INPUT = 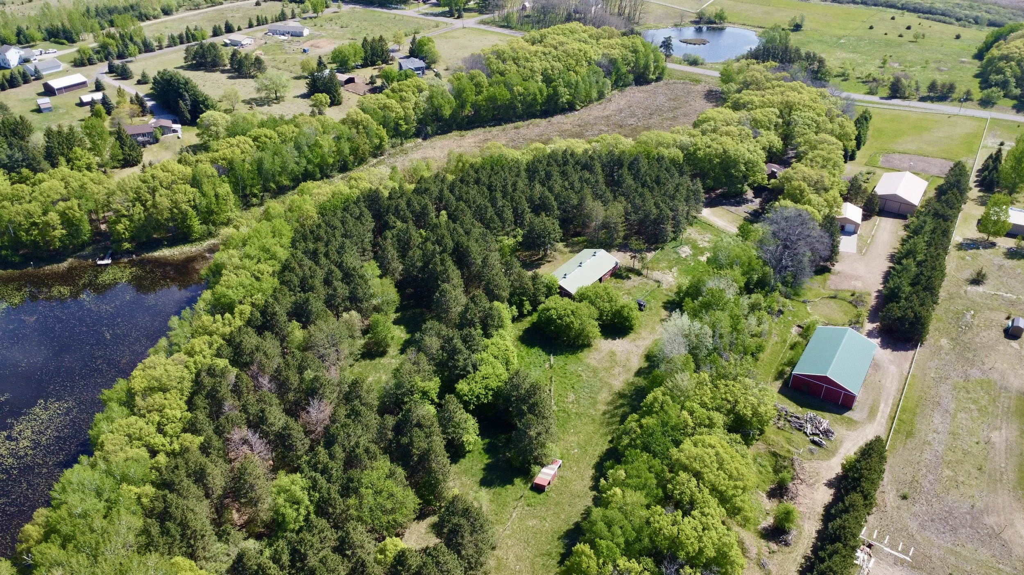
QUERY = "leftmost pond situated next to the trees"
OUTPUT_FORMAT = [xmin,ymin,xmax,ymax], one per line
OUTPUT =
[639,25,758,63]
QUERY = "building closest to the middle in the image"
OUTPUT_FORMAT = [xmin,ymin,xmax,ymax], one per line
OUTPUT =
[545,248,620,300]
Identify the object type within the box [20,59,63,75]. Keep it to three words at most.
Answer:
shed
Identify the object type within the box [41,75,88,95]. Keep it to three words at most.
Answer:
shed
